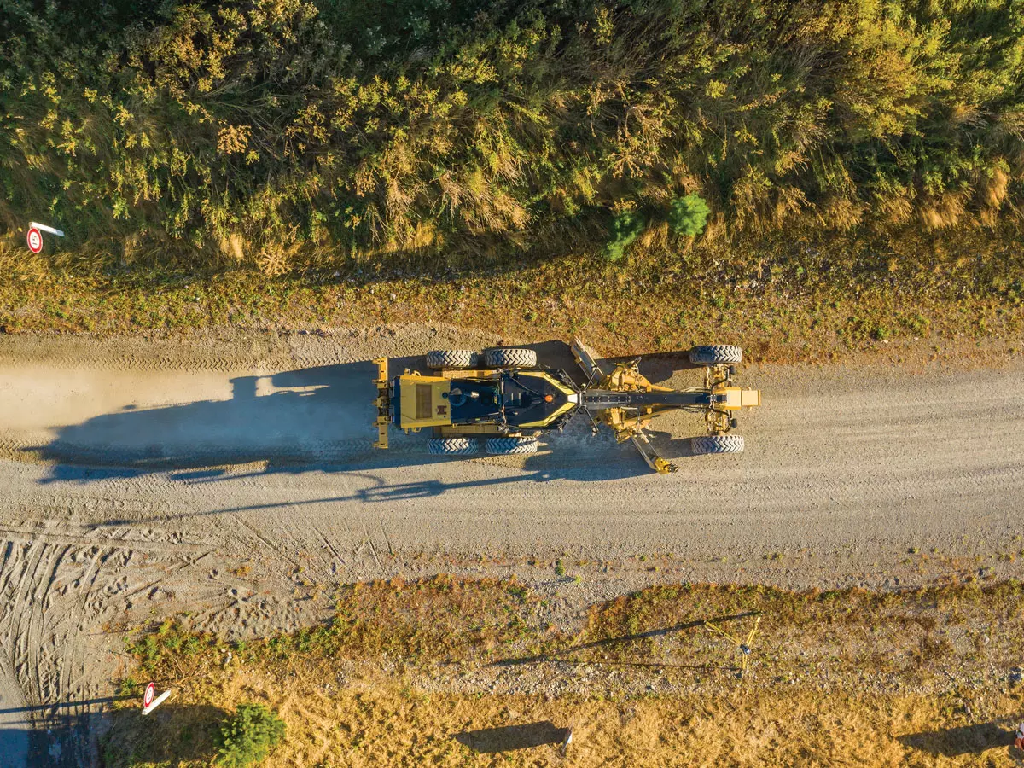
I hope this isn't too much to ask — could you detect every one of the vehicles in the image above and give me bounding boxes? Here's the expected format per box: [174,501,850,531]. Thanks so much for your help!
[372,335,760,482]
